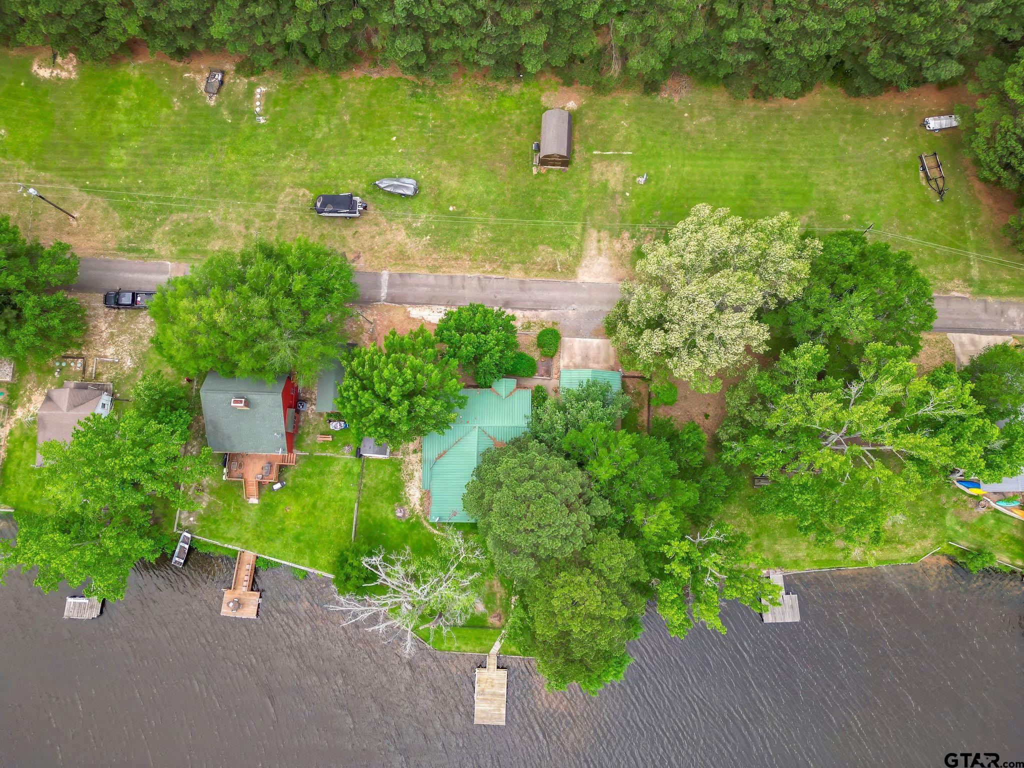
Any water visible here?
Yes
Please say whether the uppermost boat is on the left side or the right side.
right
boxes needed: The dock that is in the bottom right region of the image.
[760,569,801,623]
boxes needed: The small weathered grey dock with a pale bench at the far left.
[63,598,107,619]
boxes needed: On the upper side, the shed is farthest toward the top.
[539,109,573,170]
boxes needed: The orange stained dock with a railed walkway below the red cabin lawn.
[219,551,265,619]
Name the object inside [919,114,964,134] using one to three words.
boat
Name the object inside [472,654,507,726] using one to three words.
pier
